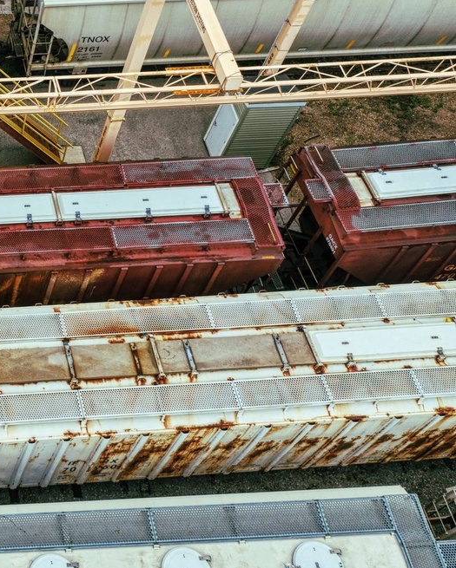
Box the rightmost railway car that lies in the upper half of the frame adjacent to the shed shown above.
[270,129,456,286]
